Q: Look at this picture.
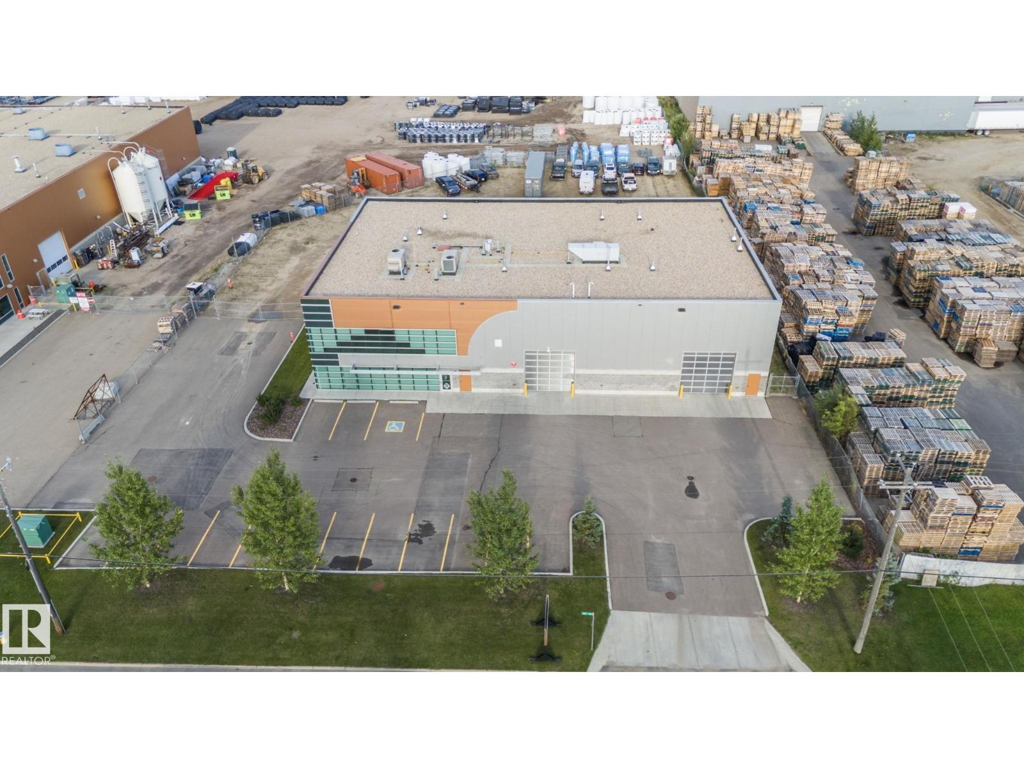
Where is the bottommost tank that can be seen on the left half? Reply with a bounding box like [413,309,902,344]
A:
[221,227,263,256]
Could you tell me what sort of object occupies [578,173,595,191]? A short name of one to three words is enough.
vehicle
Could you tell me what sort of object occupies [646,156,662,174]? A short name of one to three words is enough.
car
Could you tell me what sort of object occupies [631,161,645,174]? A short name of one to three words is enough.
vehicle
